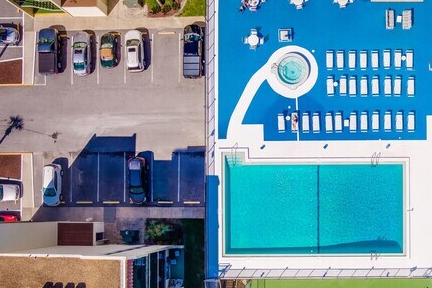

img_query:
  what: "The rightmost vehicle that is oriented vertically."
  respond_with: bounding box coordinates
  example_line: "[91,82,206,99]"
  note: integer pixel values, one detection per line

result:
[180,23,202,80]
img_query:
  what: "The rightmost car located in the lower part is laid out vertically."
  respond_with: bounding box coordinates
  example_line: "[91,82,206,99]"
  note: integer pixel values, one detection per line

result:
[126,157,148,202]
